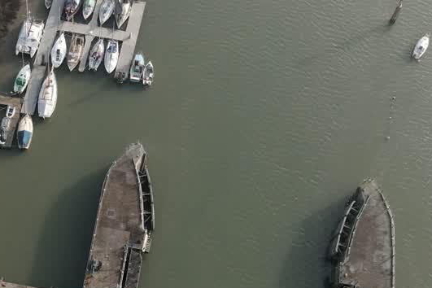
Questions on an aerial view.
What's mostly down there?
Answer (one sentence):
What you mostly see from above here is water.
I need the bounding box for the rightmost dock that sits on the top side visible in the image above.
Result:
[115,1,146,81]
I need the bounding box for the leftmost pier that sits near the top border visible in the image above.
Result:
[22,0,65,115]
